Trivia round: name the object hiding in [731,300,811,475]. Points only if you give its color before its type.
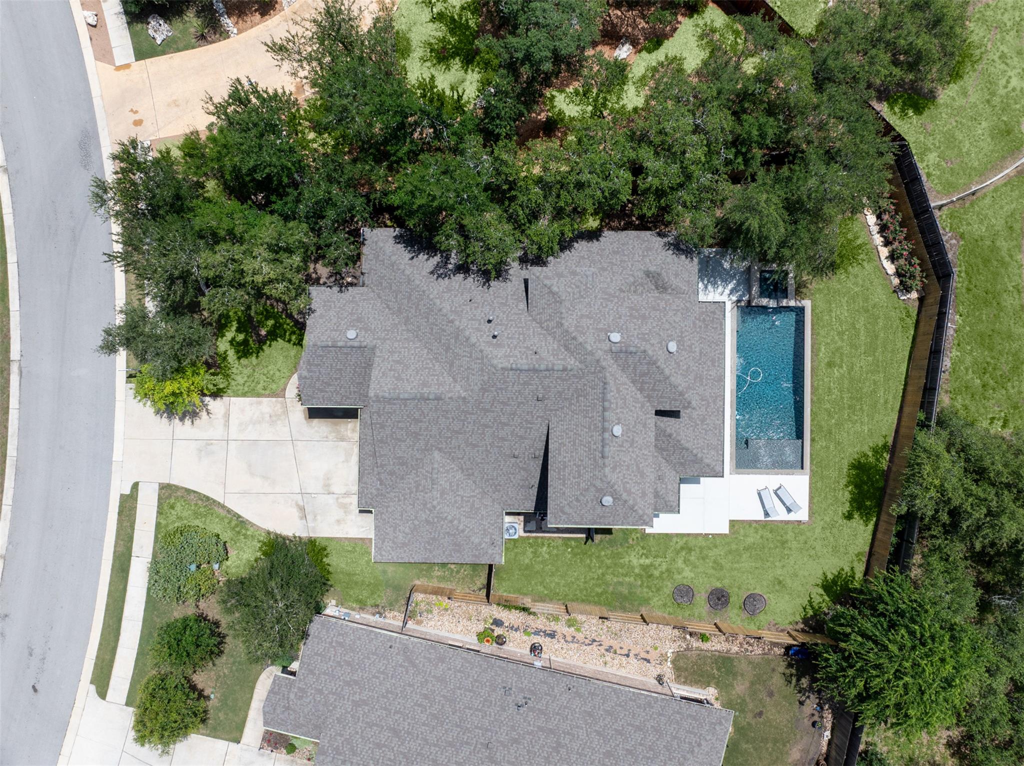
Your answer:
blue swimming pool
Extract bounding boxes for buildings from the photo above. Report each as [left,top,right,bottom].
[298,226,725,565]
[263,615,734,766]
